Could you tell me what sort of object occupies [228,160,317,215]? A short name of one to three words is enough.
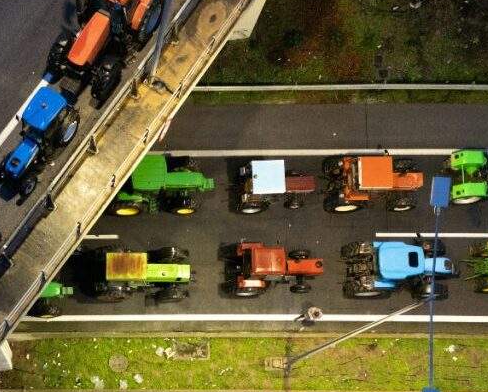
work vehicle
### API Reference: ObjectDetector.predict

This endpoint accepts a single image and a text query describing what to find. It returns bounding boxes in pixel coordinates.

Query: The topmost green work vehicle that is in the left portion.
[111,155,214,216]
